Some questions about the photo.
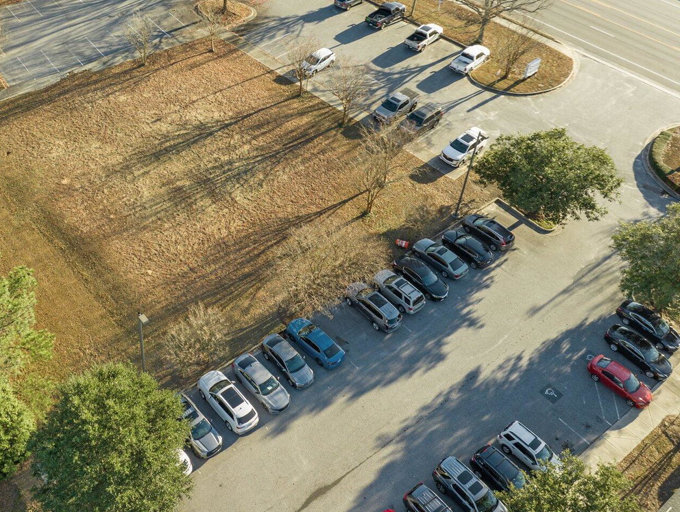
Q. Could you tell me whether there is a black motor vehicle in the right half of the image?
Yes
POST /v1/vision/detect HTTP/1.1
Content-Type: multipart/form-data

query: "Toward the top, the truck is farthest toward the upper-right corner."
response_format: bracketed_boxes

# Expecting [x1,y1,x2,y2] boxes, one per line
[446,45,491,75]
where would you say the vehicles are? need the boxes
[402,24,446,51]
[462,433,530,502]
[612,300,680,356]
[443,130,487,166]
[370,268,430,317]
[493,411,567,478]
[199,373,260,436]
[459,214,517,256]
[602,323,676,382]
[412,238,471,283]
[440,229,497,272]
[371,88,422,125]
[344,284,404,336]
[401,483,453,512]
[286,317,346,374]
[446,45,491,75]
[171,394,231,463]
[299,49,336,76]
[258,331,319,392]
[391,253,450,303]
[232,351,292,415]
[582,350,657,413]
[332,0,365,10]
[364,2,406,28]
[400,101,443,135]
[434,456,506,512]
